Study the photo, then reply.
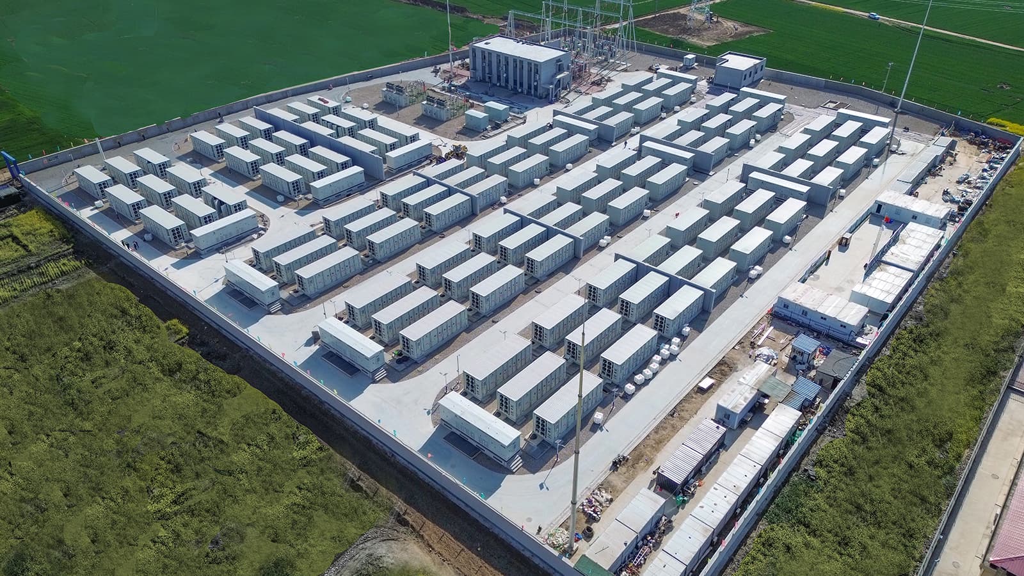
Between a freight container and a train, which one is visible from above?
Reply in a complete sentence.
Of the two, only a freight container appears.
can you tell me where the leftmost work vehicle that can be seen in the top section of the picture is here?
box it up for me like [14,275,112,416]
[433,138,464,163]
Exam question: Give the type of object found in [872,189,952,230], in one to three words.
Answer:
building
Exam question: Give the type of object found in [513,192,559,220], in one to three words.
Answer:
shipping container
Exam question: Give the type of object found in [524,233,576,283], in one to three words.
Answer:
shipping container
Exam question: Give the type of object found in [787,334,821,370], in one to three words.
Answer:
shed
